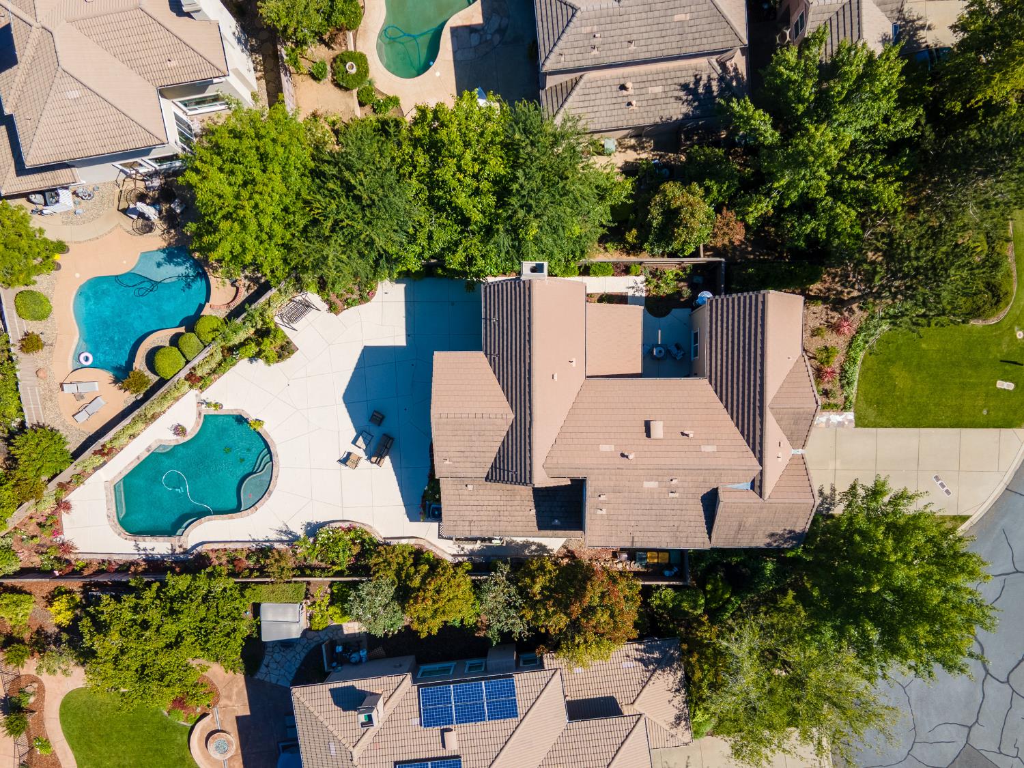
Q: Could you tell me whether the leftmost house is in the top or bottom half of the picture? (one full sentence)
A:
The leftmost house sits in the top half of the picture.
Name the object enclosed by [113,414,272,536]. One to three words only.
swimming pool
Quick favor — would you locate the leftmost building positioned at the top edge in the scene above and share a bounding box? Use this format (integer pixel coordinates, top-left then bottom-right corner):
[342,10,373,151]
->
[0,0,255,203]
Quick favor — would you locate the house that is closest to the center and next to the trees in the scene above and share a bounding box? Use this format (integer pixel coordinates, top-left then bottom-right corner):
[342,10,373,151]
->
[432,261,822,550]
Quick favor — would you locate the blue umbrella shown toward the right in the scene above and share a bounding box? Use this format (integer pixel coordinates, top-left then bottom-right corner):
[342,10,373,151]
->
[694,290,710,306]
